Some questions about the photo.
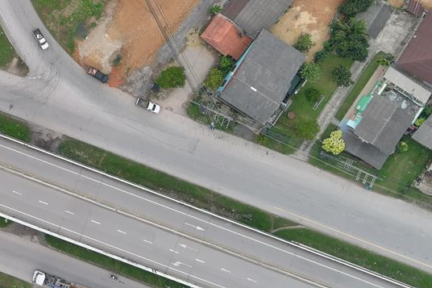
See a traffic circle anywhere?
No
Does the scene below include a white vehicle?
Yes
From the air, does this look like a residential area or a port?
residential area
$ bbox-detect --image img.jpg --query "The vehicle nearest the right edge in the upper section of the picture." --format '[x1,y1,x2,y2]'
[134,96,160,114]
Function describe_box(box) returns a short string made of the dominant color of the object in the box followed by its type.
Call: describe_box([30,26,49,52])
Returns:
white vehicle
